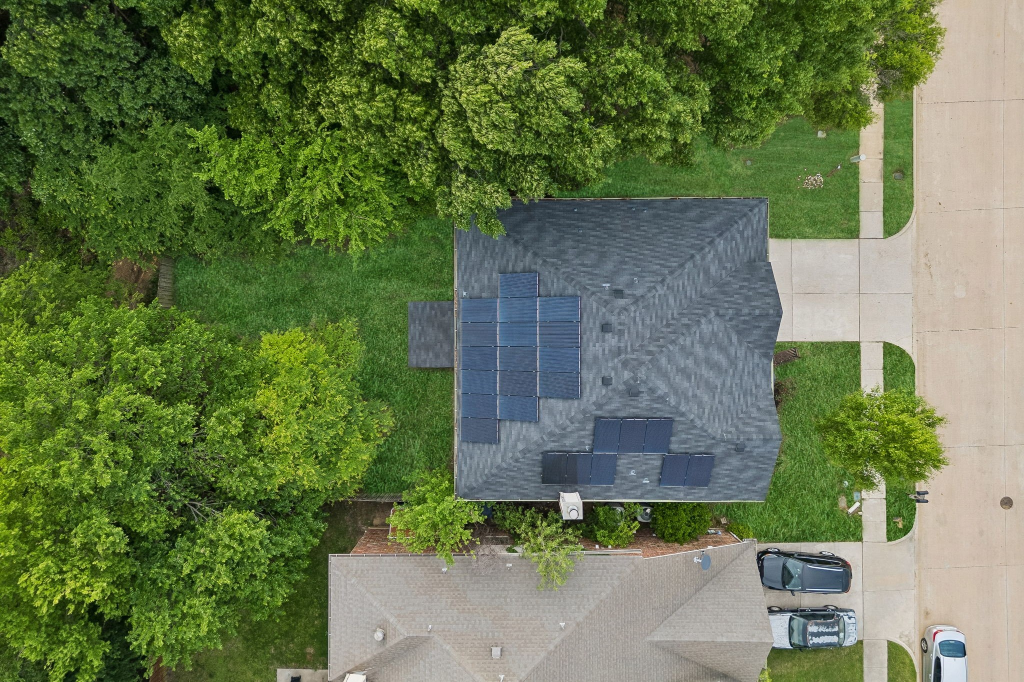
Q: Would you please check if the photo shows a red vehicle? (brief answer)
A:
No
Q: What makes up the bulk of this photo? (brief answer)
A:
trees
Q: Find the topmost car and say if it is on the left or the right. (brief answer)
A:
right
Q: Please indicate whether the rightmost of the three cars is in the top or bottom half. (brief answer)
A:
bottom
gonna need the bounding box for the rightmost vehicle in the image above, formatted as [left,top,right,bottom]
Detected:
[920,624,972,682]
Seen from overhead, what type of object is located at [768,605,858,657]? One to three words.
car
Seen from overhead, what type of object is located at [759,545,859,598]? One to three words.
car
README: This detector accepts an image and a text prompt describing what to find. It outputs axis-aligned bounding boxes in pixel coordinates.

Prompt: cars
[920,624,972,682]
[759,545,859,598]
[768,605,858,657]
